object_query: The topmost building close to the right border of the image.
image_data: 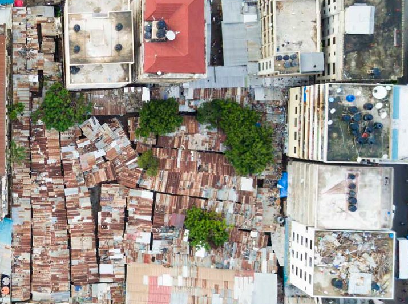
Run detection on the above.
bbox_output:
[318,0,404,85]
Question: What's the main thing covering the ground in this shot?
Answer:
buildings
